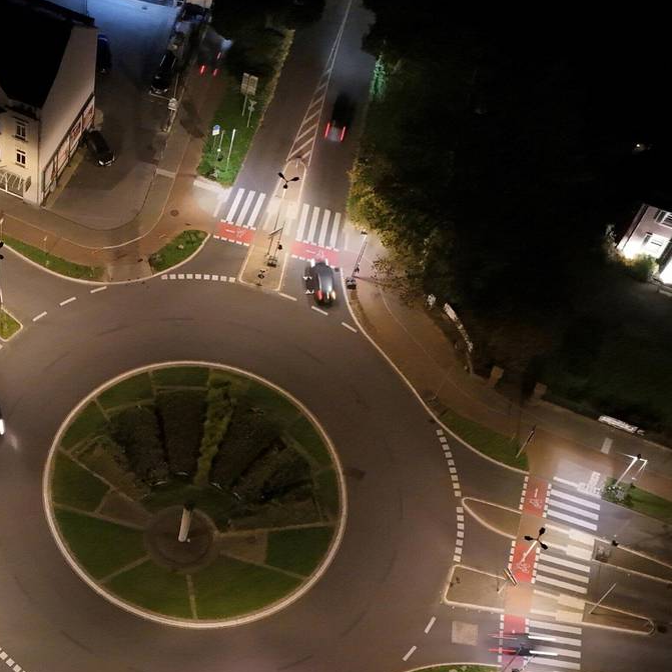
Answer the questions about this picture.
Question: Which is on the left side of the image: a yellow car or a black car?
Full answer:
The one visible on the left side of the image is a black car.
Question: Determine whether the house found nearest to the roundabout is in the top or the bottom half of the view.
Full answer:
The top half of the photo is where the house found nearest to the roundabout is.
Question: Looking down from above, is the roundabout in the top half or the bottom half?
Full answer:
The roundabout is in the bottom half of the image.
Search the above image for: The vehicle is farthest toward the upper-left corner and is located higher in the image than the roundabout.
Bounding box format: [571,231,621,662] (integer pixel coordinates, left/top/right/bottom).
[92,31,116,71]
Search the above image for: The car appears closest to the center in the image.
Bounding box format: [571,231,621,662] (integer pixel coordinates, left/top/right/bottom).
[307,261,335,304]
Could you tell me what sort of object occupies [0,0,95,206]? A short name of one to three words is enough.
house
